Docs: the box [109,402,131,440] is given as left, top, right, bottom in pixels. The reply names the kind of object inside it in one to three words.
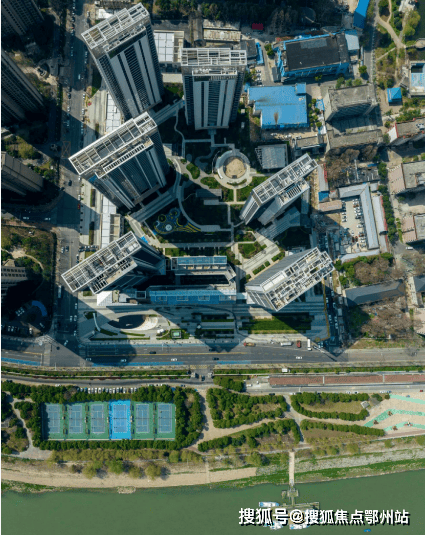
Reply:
tennis court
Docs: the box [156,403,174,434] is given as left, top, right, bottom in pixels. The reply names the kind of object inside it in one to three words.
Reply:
tennis court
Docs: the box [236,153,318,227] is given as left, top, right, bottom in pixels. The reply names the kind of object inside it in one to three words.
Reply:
building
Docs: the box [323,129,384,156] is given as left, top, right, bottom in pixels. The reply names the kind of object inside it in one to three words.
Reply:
house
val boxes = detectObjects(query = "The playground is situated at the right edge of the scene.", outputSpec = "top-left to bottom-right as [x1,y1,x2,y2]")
[353,392,425,438]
